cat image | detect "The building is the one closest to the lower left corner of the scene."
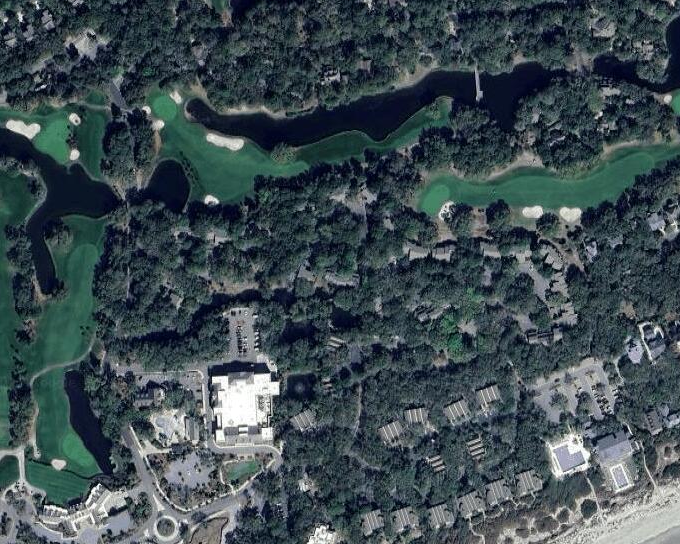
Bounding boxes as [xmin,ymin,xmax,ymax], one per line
[39,483,114,534]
